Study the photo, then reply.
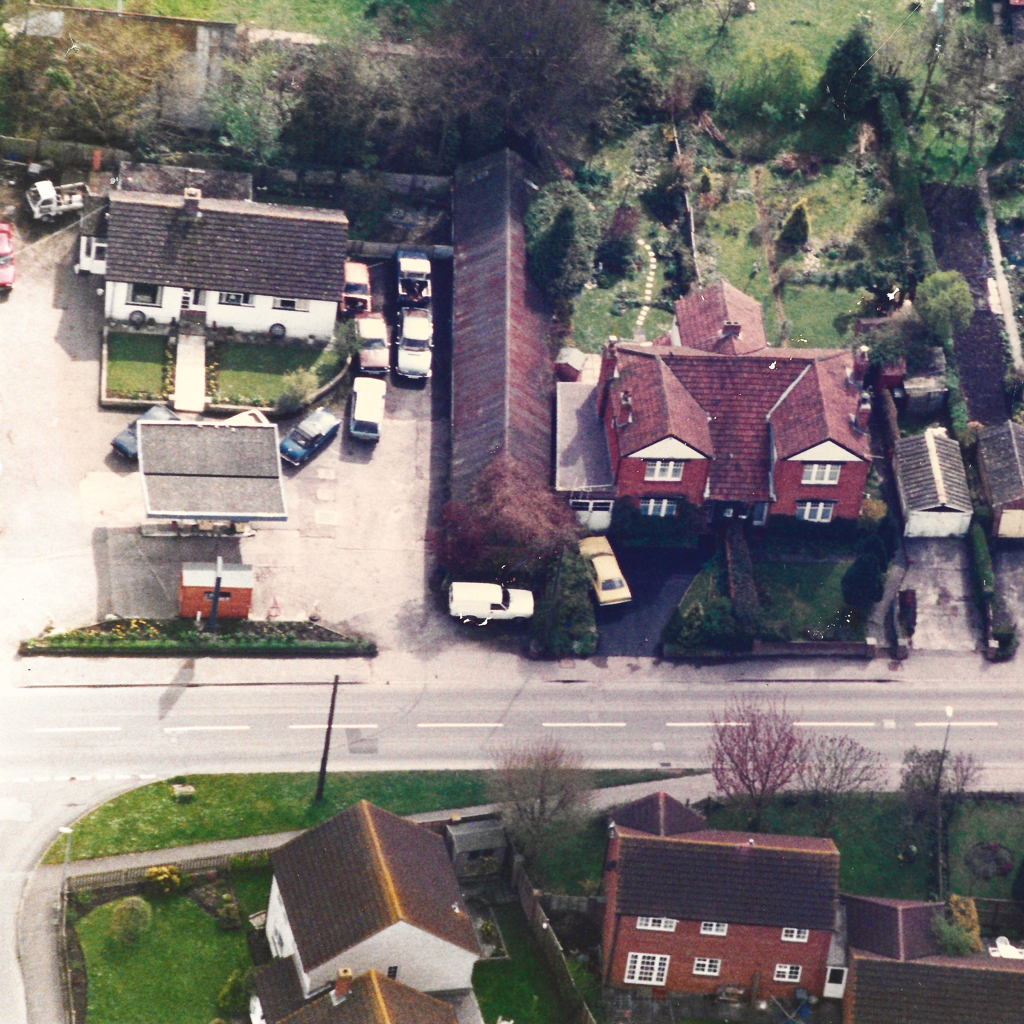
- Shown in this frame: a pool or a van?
van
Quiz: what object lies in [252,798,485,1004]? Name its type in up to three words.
house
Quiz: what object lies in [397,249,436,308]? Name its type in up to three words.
vehicle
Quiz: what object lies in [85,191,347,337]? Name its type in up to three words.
house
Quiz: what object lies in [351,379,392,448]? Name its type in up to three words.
car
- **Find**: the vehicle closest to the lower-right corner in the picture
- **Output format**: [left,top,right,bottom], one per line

[571,533,632,602]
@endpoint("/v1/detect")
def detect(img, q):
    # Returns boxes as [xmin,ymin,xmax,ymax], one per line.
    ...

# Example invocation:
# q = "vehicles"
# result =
[230,398,275,421]
[397,315,437,379]
[448,585,537,630]
[351,379,392,448]
[105,412,182,465]
[357,313,396,374]
[280,410,346,470]
[571,533,632,602]
[27,178,89,224]
[397,249,436,308]
[343,256,379,313]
